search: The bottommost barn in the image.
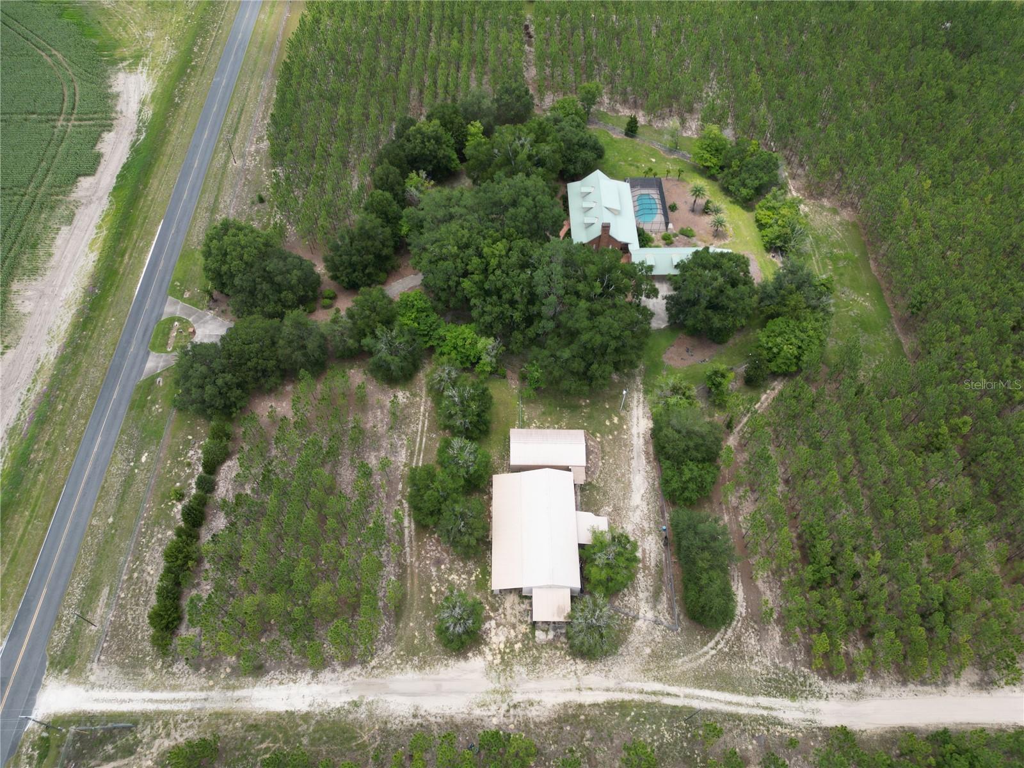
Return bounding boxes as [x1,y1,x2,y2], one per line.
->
[492,469,608,626]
